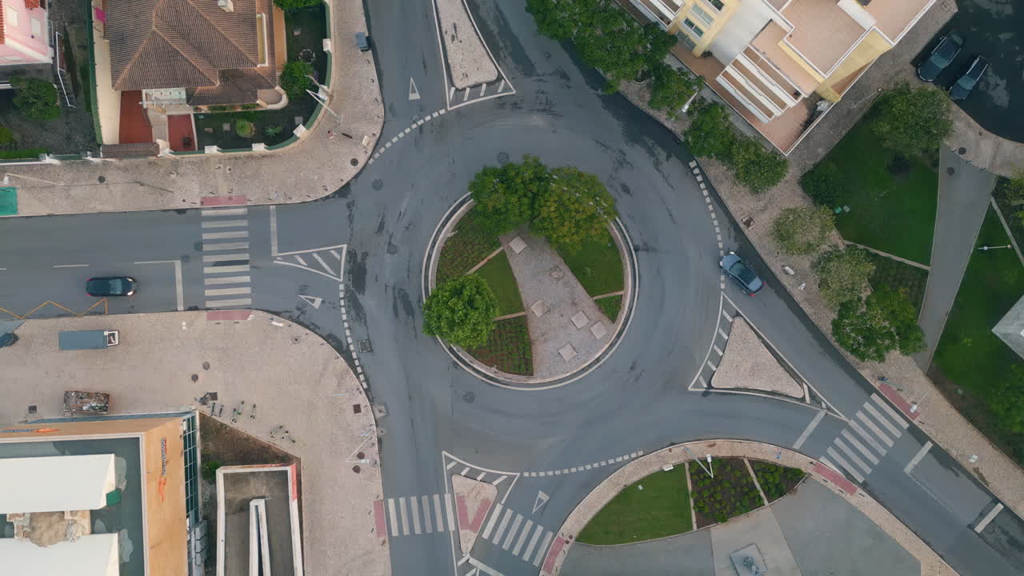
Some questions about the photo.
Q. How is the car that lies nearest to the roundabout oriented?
on a diagonal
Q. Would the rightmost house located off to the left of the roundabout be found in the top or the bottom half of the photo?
top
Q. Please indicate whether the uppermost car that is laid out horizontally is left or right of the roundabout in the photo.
to its left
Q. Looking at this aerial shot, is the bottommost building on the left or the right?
left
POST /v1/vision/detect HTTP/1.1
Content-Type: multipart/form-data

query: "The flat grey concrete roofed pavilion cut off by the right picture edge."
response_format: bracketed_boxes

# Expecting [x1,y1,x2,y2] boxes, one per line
[990,296,1024,359]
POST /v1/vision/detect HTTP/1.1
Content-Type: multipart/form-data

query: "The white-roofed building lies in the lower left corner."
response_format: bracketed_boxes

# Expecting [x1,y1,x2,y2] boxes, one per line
[0,408,205,576]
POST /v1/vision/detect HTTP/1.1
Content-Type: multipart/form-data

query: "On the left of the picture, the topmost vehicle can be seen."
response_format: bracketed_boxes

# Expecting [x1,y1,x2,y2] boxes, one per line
[85,274,137,298]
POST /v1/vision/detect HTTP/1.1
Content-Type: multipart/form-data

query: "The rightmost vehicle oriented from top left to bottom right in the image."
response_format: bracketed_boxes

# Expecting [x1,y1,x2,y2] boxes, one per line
[718,252,766,297]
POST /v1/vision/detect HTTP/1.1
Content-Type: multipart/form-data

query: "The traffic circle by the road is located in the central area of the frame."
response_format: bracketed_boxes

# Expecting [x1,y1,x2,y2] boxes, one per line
[322,74,737,489]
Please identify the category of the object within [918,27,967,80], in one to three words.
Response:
car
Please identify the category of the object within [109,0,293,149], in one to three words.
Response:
house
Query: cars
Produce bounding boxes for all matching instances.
[0,328,16,354]
[718,252,766,297]
[918,27,967,80]
[85,274,137,298]
[947,53,993,103]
